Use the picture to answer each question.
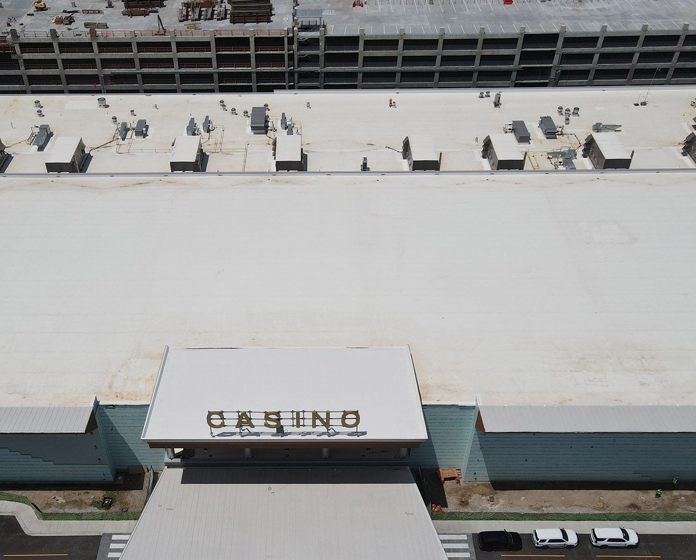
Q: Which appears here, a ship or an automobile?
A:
automobile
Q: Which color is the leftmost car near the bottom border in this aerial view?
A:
black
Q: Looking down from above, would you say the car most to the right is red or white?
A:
white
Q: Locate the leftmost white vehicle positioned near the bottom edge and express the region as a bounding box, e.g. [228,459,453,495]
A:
[531,528,582,552]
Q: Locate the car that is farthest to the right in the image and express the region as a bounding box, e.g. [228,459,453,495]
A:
[590,527,641,552]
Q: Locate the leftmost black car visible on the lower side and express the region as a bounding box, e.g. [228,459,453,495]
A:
[476,530,526,554]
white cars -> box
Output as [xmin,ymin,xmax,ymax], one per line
[590,527,641,552]
[531,528,582,552]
